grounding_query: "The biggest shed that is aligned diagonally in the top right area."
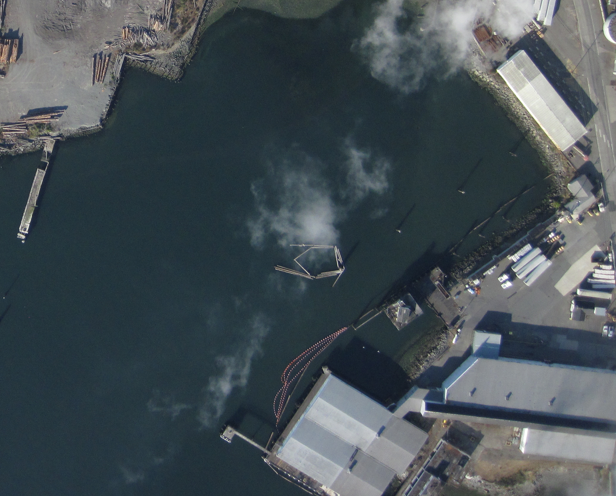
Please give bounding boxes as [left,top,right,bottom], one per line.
[493,50,587,151]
